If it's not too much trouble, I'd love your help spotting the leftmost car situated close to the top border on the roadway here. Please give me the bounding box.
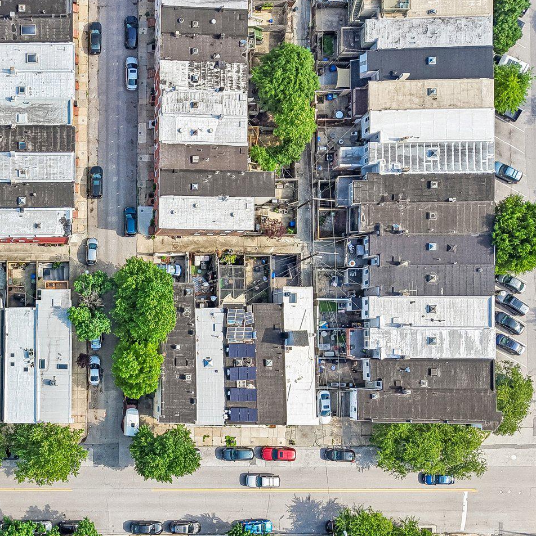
[87,21,104,56]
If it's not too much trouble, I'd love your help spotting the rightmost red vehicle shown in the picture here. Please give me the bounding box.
[260,446,295,463]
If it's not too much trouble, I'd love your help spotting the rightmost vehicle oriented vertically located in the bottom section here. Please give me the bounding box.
[319,387,333,421]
